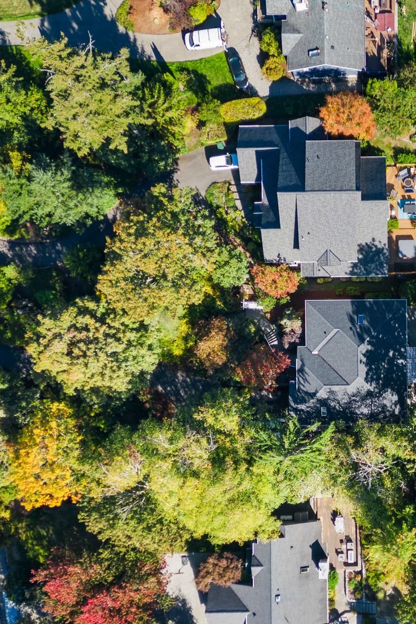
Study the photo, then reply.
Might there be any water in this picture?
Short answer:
No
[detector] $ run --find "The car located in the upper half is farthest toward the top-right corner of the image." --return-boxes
[227,54,249,90]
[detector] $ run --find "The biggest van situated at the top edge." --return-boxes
[183,22,229,50]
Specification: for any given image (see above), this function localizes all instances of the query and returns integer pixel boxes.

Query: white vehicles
[212,154,237,171]
[183,22,229,50]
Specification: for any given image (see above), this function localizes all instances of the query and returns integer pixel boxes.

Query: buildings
[264,0,366,78]
[289,299,408,425]
[203,516,331,624]
[235,115,387,278]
